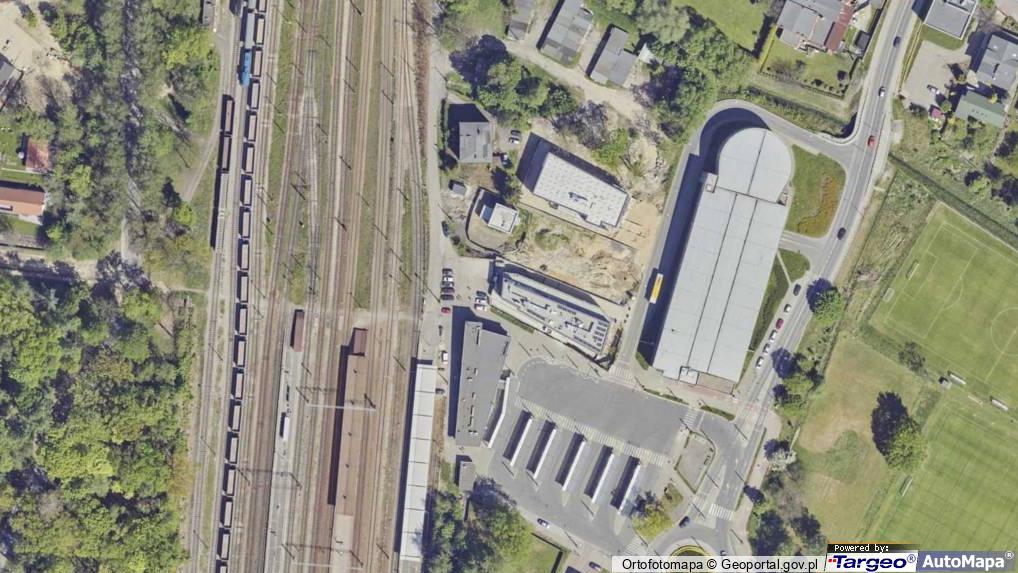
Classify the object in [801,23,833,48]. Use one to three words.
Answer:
house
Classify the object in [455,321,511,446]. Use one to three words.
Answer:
building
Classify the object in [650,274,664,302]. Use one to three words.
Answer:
vehicle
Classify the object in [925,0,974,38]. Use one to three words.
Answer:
house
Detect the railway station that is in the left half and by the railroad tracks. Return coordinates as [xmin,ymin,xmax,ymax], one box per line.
[264,306,438,573]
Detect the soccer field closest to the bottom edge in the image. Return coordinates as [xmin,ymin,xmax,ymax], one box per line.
[862,402,1018,573]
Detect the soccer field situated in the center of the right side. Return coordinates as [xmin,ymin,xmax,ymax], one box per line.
[870,204,1018,409]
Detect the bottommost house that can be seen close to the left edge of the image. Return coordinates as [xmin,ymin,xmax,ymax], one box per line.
[0,188,46,217]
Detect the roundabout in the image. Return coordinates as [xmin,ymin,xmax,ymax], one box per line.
[641,520,736,573]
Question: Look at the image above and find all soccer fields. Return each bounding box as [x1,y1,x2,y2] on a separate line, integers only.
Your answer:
[862,402,1018,573]
[870,204,1018,409]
